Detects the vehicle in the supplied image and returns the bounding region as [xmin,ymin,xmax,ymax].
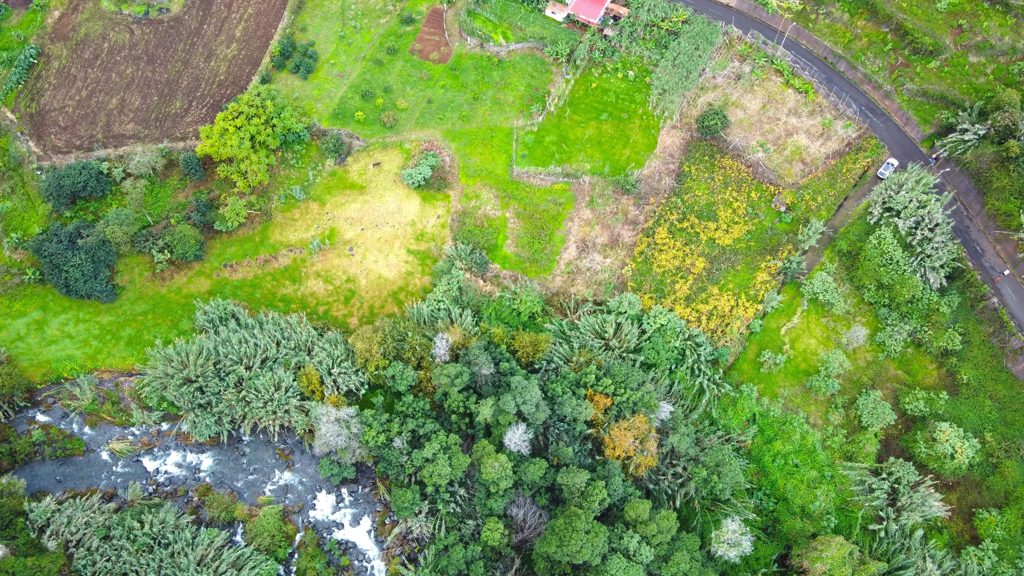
[878,159,896,176]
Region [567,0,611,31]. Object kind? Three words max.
house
